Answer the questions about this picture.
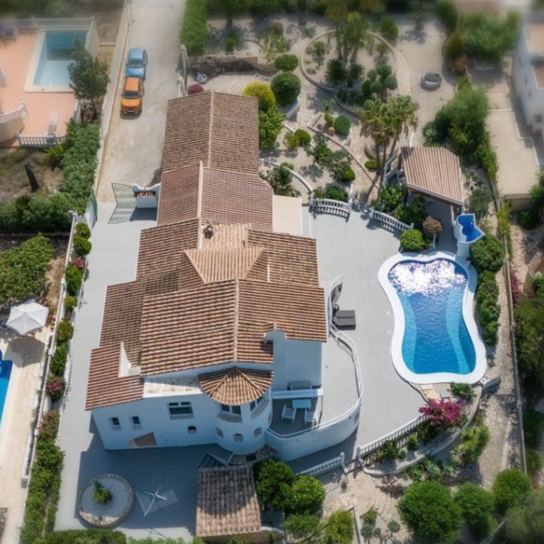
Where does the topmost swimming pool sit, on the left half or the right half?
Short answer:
left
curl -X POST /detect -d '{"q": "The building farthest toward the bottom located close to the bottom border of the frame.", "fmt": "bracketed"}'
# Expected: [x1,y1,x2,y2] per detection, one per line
[197,465,269,544]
